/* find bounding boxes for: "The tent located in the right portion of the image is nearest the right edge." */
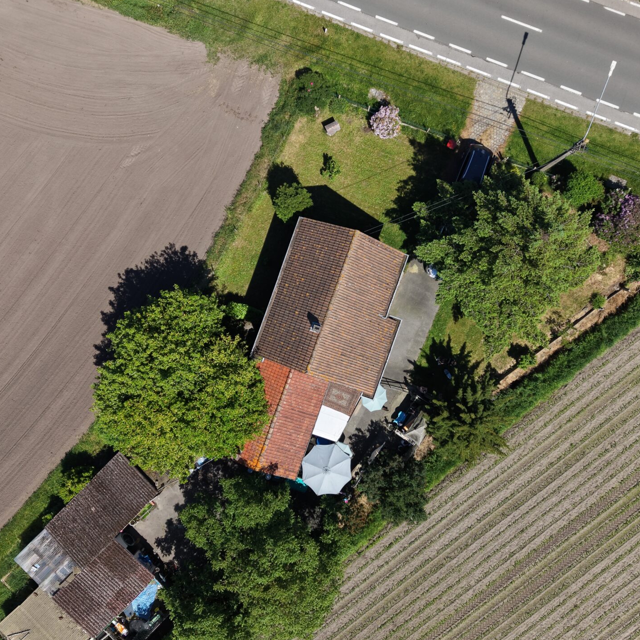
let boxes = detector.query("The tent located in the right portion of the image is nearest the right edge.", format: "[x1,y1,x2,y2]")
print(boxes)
[401,408,427,446]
